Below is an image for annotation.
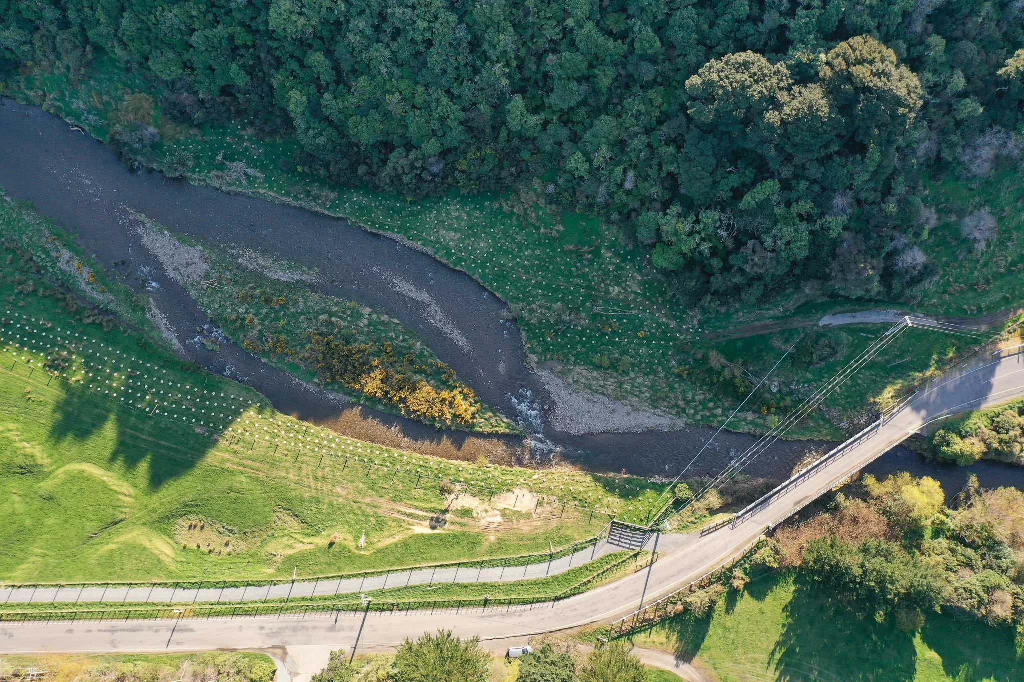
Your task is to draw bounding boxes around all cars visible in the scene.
[509,645,531,658]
